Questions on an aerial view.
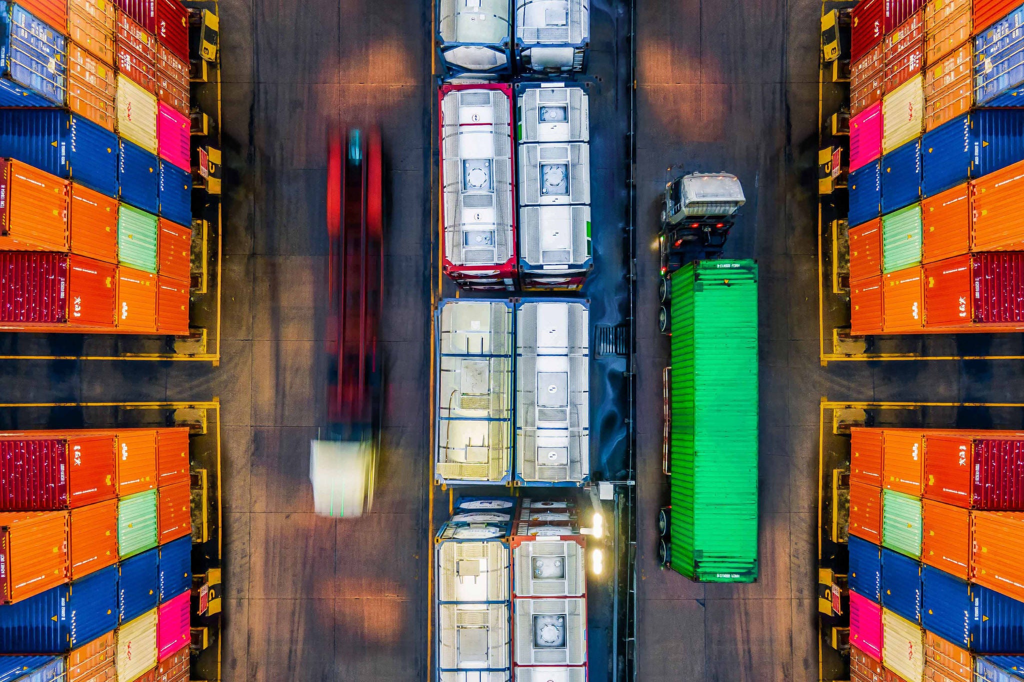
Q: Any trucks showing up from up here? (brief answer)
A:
Yes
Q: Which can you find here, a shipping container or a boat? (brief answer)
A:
shipping container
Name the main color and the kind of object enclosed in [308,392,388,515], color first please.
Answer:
white truck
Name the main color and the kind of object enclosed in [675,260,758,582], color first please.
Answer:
green shipping container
